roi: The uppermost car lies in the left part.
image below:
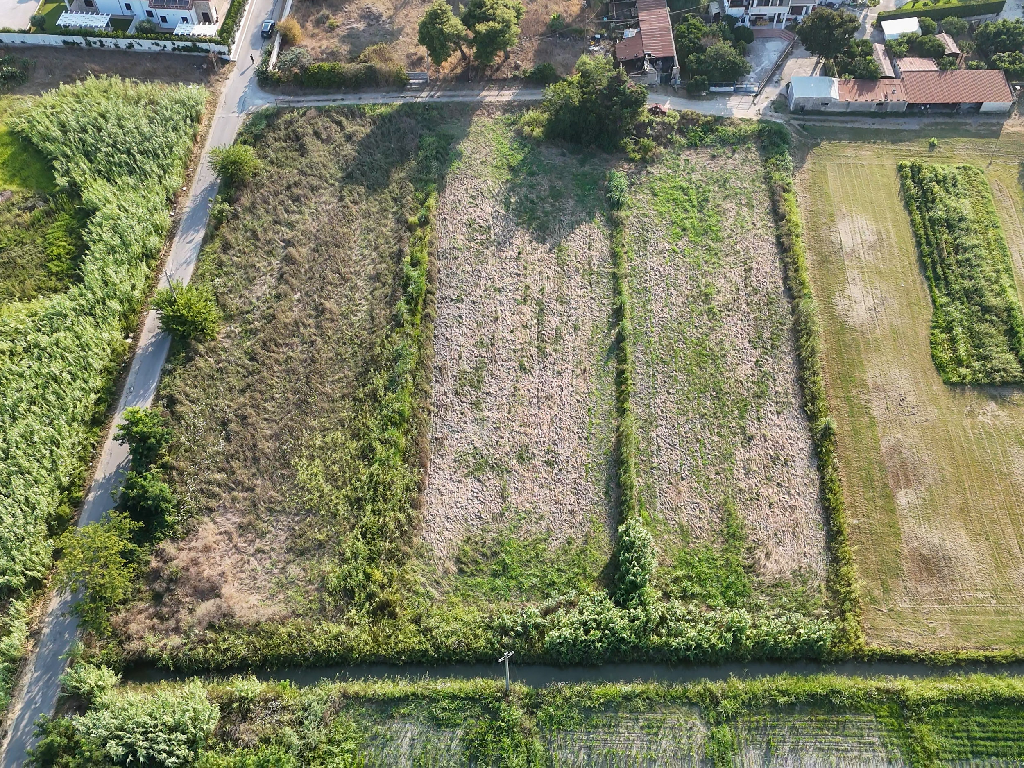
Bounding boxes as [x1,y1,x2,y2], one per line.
[260,13,278,35]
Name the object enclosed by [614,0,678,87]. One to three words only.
shed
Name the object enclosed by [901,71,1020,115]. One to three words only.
barn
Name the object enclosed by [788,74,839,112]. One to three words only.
shed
